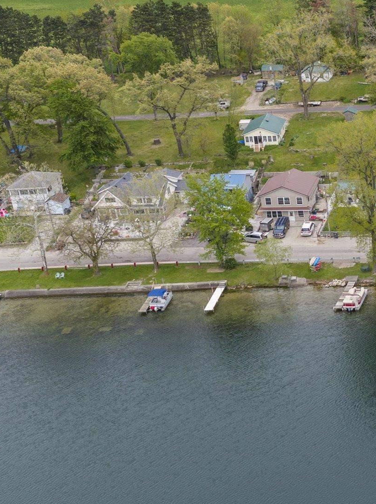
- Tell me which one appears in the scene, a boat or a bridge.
boat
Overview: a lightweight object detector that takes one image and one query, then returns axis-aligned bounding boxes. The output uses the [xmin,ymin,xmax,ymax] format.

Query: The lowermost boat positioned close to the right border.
[339,284,369,316]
